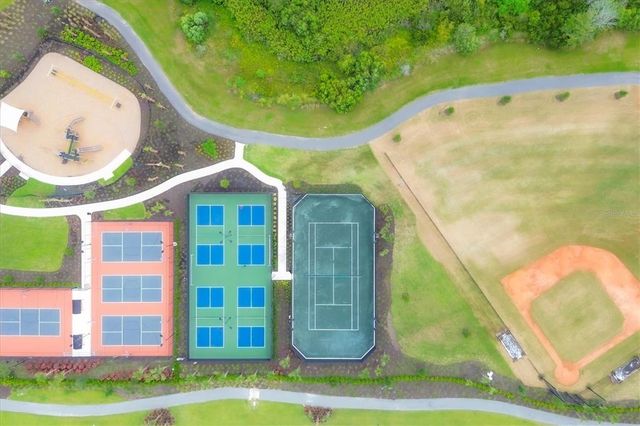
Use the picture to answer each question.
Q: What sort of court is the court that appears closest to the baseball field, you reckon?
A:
tennis court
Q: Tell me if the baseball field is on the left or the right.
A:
right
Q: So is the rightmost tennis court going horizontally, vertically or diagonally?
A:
vertically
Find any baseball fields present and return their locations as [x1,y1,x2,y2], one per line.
[370,84,640,400]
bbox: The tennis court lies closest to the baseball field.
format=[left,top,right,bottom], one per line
[293,195,374,359]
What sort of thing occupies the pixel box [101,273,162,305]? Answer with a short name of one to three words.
sports court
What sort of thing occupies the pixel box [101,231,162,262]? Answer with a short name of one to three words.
sports court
